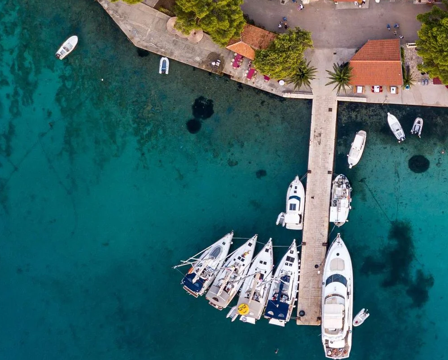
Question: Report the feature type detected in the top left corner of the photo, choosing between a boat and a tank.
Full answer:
The one visible in the top left corner of the photo is a boat.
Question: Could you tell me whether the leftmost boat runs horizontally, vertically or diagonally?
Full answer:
The leftmost boat is oriented diagonally.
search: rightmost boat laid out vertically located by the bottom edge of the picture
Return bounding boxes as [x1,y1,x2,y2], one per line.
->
[321,232,353,360]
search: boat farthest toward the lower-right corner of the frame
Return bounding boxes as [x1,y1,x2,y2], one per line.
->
[352,307,371,328]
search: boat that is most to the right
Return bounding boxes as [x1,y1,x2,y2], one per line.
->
[410,116,423,138]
